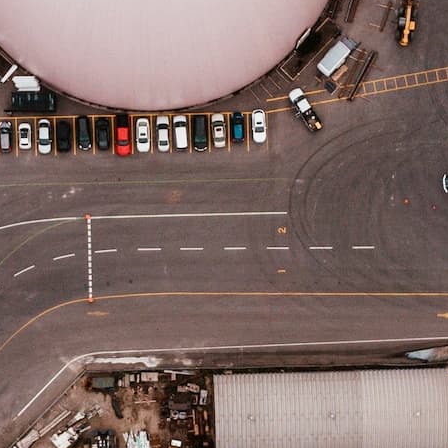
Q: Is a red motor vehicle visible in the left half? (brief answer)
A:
Yes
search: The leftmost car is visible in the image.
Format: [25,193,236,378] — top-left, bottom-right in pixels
[0,121,14,153]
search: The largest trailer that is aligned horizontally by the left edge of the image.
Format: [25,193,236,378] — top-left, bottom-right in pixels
[3,89,54,111]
